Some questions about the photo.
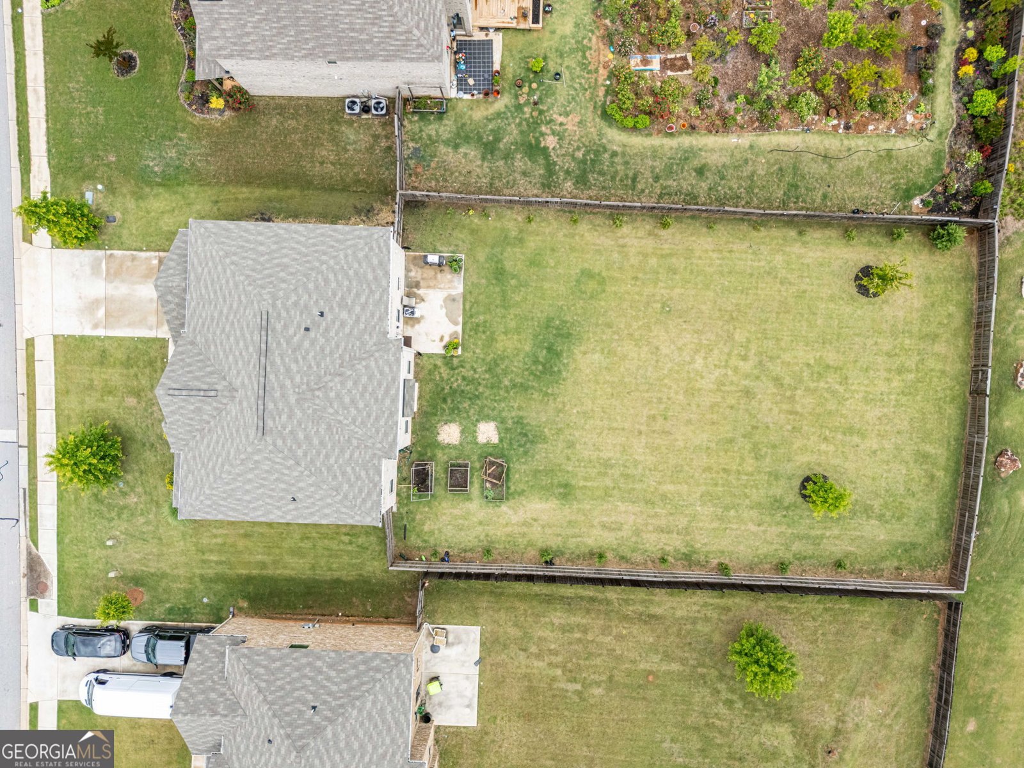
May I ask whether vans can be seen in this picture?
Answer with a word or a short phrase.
Yes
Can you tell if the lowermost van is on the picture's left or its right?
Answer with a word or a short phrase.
left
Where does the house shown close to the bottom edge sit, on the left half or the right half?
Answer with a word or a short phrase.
left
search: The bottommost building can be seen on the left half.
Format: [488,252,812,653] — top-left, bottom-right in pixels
[171,605,439,768]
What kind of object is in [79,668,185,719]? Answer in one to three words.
van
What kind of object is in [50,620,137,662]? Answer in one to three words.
car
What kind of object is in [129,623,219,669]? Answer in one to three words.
truck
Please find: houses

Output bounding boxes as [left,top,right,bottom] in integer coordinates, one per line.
[155,219,425,527]
[191,0,472,98]
[171,605,439,768]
